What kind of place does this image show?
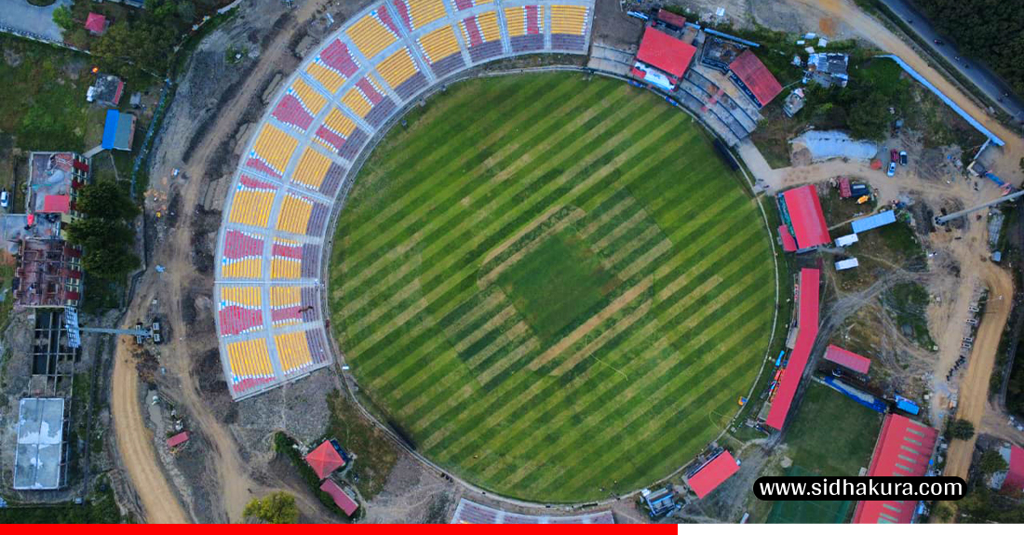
sports ground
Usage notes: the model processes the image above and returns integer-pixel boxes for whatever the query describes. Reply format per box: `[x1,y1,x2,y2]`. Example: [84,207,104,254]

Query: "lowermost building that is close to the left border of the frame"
[13,398,80,489]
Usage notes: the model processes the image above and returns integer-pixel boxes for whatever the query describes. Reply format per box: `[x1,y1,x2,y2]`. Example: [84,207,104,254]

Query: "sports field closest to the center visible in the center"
[326,68,779,507]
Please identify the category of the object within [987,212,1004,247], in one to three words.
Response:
greenhouse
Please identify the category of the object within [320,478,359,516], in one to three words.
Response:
shed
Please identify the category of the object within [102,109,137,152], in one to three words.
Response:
house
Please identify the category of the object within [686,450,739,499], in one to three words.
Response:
building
